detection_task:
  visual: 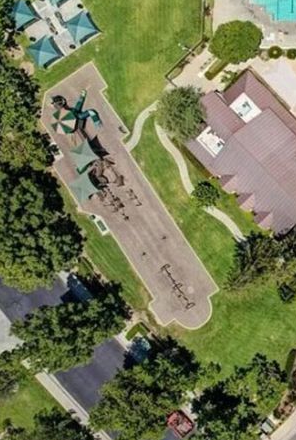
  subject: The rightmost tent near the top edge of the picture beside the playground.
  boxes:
[65,11,107,45]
